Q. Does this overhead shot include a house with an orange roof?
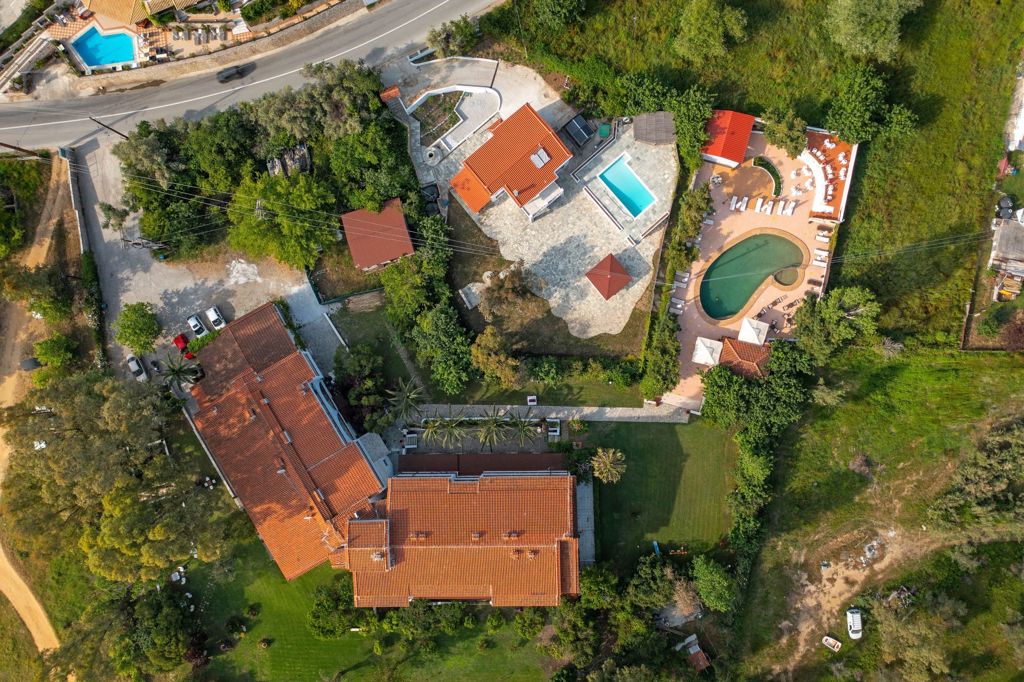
Yes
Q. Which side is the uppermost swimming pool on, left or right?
left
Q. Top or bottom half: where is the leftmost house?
top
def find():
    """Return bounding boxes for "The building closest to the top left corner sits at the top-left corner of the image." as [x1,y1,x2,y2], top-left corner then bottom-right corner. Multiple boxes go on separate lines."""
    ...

[83,0,155,32]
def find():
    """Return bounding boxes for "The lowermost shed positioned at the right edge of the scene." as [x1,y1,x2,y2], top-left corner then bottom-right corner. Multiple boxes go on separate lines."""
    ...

[981,219,1024,279]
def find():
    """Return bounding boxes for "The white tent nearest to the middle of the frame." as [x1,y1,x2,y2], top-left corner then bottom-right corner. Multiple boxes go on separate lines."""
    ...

[688,337,723,366]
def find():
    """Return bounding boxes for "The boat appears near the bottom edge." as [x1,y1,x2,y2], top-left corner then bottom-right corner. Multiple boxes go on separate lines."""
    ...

[822,637,842,652]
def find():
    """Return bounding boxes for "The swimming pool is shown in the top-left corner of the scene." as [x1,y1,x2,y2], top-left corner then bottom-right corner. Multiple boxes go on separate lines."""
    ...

[66,20,140,69]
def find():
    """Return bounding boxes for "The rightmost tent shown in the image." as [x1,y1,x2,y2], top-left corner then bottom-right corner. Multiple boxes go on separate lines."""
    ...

[738,317,769,345]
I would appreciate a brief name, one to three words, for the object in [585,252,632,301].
gazebo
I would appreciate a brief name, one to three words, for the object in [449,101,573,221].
house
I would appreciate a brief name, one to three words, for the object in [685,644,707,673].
shed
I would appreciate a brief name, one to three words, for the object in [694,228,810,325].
swimming pool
